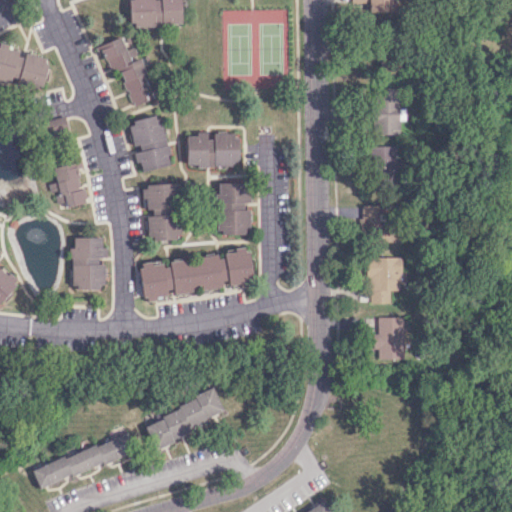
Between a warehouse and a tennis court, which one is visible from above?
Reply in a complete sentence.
It is a tennis court that can be seen here.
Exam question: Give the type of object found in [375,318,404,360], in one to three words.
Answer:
house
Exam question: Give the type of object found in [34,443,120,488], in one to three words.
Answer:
building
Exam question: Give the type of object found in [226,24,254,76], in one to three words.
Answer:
tennis court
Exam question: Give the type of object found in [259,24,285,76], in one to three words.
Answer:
tennis court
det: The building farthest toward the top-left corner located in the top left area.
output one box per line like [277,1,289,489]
[0,44,48,88]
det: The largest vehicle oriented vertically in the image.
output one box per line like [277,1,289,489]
[104,130,116,156]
